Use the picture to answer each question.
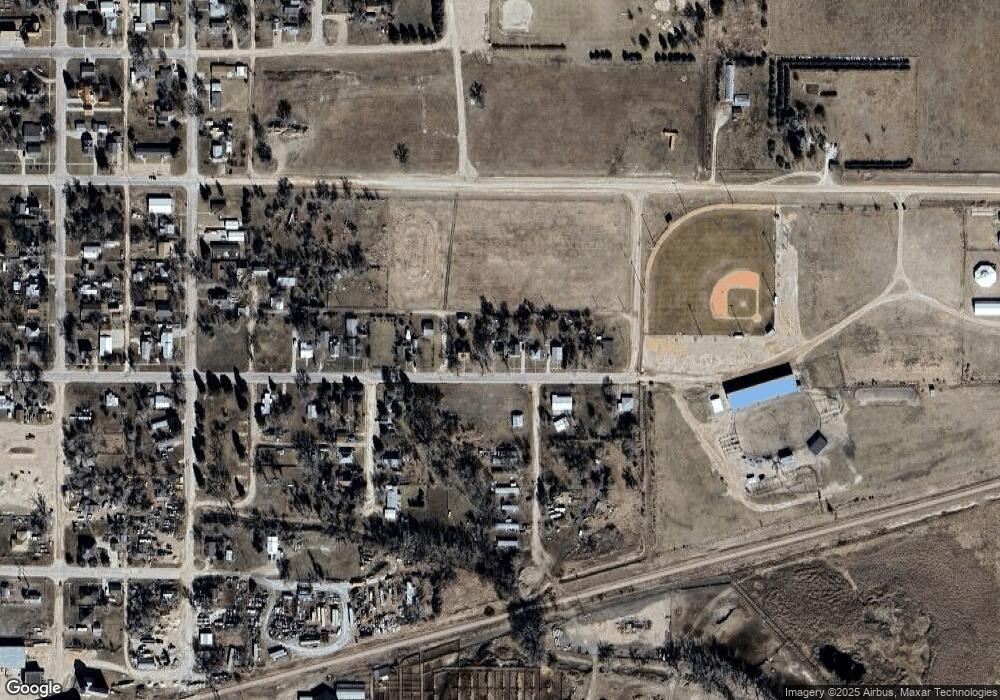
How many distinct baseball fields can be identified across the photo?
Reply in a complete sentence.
Just 1 baseball field appears in this view.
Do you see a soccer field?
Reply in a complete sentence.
No, no soccer field is visible in the scene.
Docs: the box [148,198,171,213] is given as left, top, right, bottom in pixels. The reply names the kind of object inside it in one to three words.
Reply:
barn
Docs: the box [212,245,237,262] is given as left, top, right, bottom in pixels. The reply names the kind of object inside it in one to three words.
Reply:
house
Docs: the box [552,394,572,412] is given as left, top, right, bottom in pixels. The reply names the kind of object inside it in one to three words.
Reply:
barn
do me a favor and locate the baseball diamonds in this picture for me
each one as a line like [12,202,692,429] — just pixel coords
[646,204,776,335]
